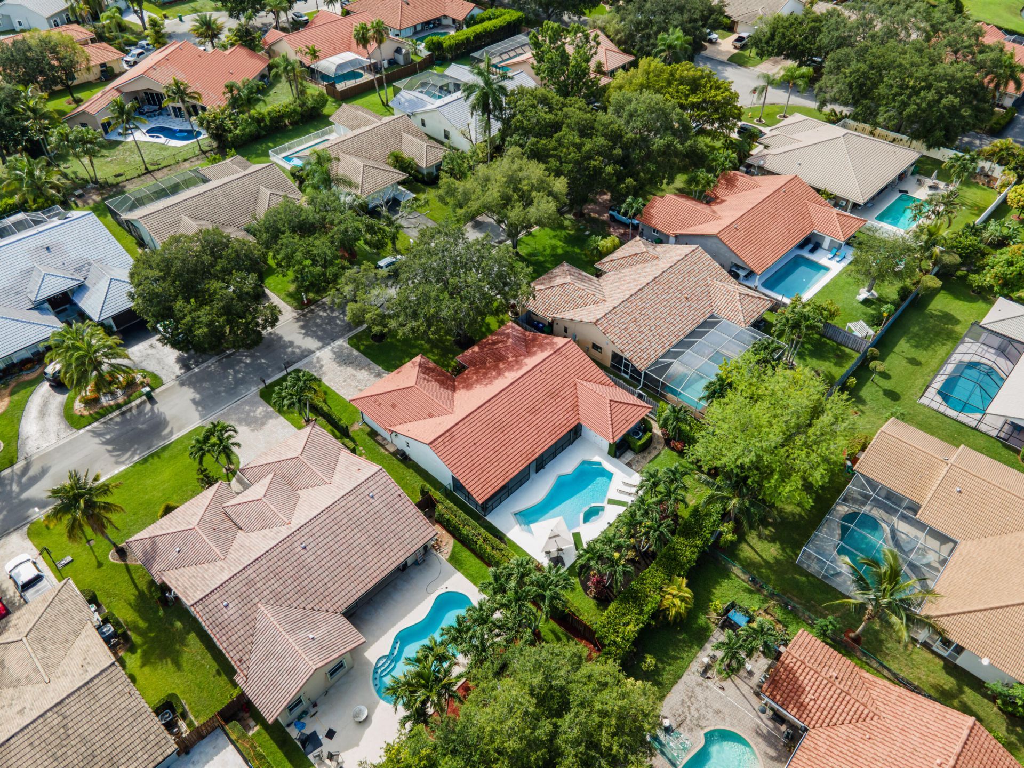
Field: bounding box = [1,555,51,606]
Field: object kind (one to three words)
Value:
truck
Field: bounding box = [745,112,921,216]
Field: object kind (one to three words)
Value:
house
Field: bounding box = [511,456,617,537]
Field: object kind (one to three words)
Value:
swimming pool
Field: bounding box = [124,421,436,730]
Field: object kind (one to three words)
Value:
house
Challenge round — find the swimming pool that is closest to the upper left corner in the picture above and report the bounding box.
[144,125,203,140]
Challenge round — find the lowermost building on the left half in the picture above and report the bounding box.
[0,576,178,768]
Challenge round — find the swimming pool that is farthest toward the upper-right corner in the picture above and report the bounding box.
[872,192,928,230]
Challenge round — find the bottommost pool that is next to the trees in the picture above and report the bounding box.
[674,723,764,768]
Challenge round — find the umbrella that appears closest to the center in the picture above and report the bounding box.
[530,517,573,572]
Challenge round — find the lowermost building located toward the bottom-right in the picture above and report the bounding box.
[758,628,1024,768]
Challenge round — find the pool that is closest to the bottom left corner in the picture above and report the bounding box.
[369,587,472,711]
